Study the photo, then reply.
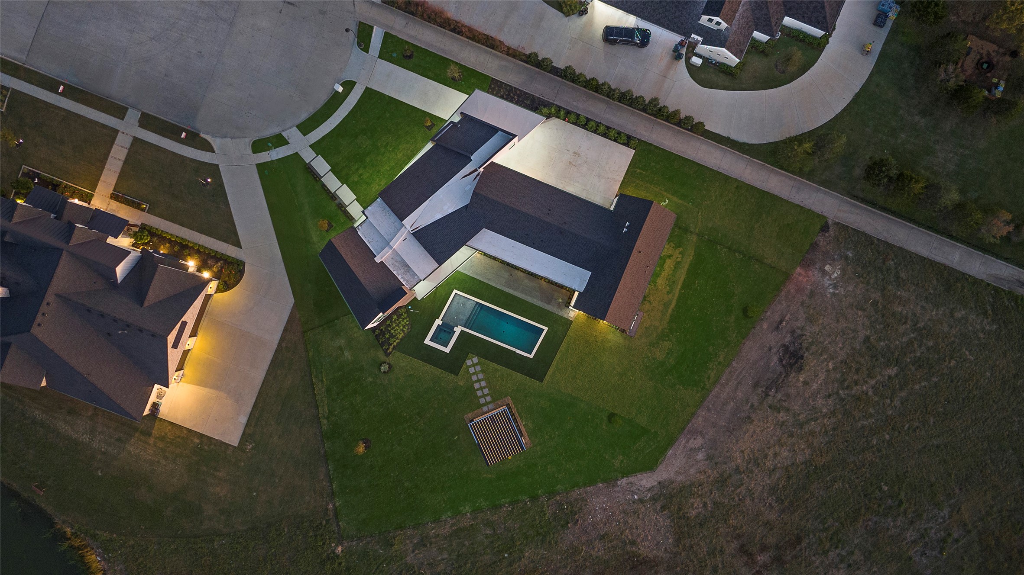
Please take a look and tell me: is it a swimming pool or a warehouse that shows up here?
swimming pool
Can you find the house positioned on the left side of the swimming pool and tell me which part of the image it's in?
left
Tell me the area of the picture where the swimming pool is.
center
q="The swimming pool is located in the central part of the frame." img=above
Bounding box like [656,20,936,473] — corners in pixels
[424,290,548,358]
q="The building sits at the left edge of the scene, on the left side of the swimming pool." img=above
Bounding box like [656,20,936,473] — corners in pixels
[0,186,229,423]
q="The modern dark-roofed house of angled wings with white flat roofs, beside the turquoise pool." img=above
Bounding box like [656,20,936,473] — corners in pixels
[319,89,677,330]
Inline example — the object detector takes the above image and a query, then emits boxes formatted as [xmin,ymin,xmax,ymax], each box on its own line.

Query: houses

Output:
[0,186,229,423]
[319,89,677,330]
[598,0,845,67]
